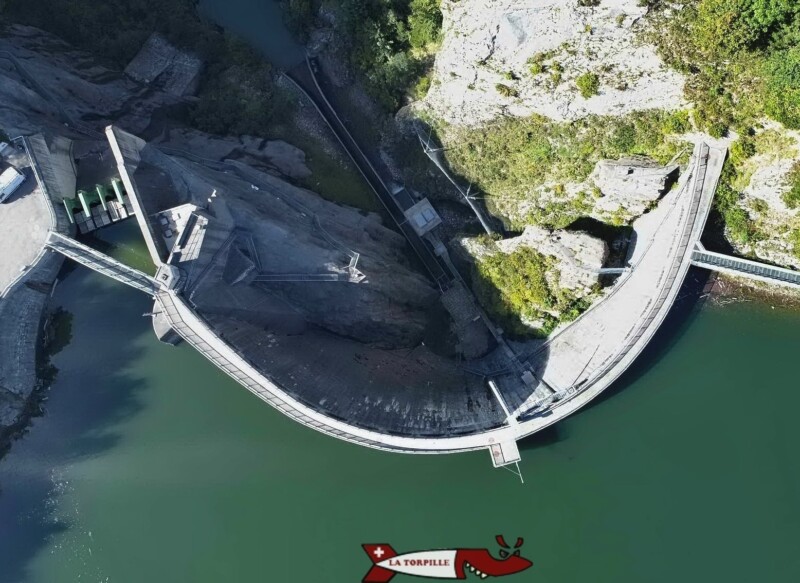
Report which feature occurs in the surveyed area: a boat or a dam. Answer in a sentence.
There is a dam in the scene.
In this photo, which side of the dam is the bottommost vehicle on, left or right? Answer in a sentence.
In the image, the bottommost vehicle sits on the left side of the dam.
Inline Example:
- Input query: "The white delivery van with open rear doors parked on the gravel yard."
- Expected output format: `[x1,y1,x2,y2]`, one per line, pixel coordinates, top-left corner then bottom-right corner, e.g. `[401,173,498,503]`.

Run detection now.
[0,167,27,205]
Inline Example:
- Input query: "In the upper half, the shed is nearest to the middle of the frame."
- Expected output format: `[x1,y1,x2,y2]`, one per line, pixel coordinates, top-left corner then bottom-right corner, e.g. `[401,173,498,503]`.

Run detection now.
[405,199,441,236]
